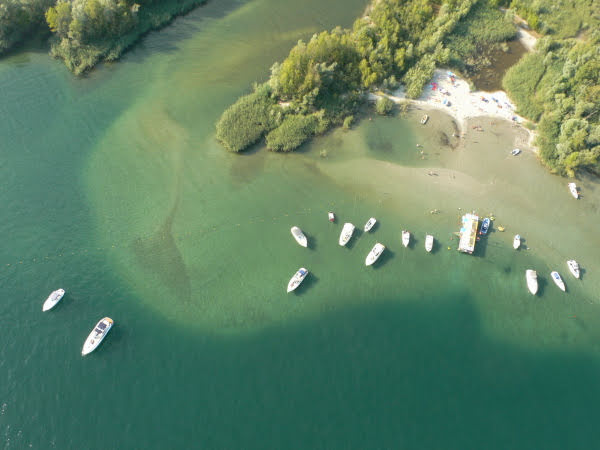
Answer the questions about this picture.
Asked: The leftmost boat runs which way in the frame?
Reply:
at an angle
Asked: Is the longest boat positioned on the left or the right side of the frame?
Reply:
left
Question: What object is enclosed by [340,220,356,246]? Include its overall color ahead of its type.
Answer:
white boat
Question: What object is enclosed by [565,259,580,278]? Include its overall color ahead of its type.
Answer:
white boat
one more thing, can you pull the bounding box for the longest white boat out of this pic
[81,314,117,354]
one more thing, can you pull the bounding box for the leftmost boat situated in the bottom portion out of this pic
[42,288,68,311]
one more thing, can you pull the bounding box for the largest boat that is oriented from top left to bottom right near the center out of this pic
[289,225,308,248]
